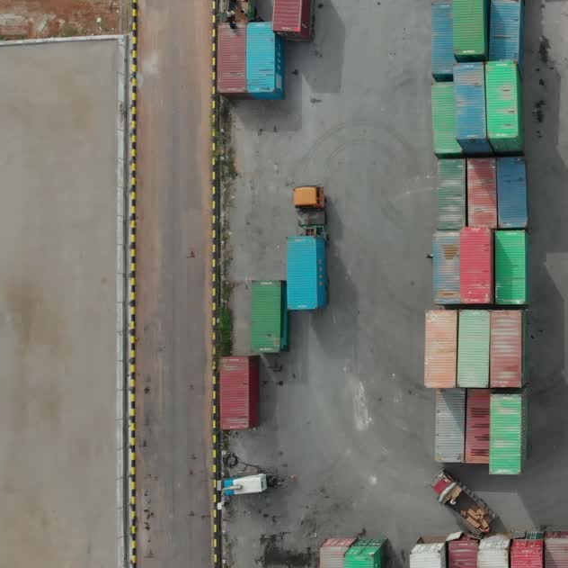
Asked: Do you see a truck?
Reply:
Yes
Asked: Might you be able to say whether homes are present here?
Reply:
No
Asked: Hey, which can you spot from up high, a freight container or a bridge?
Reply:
freight container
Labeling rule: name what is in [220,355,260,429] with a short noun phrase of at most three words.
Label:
shipping container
